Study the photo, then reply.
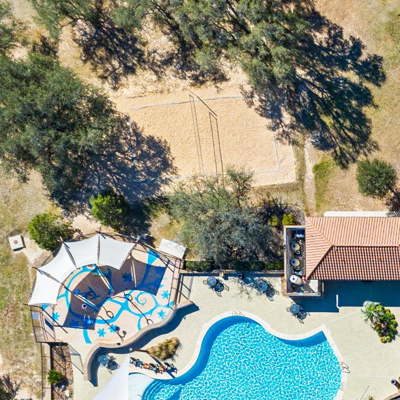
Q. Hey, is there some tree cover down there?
Yes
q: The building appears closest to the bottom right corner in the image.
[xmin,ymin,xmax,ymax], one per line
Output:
[304,217,400,284]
